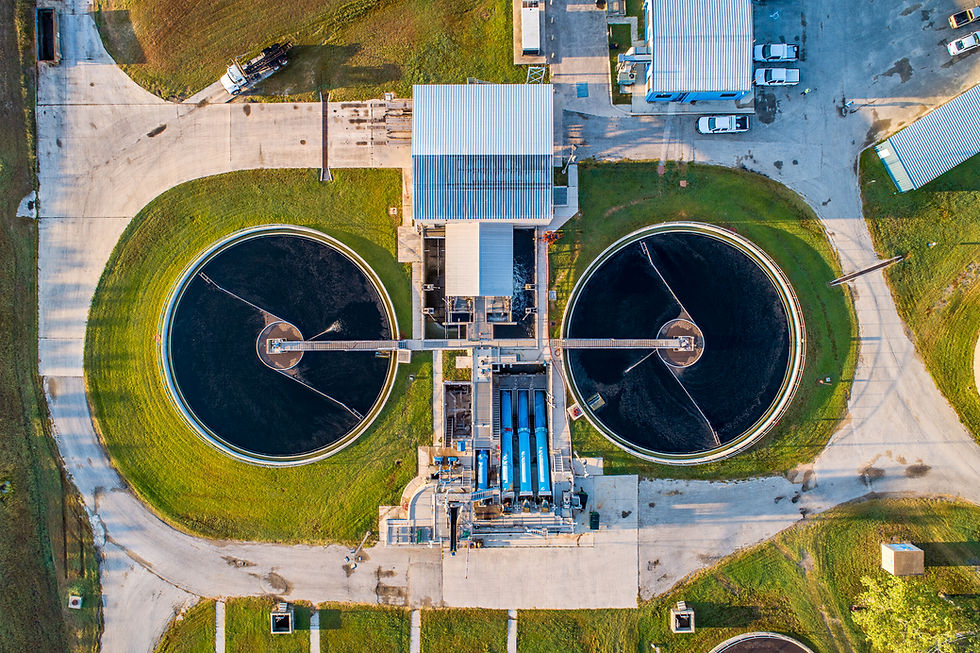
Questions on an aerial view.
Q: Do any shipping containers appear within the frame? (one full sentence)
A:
Yes, this view includes a shipping container.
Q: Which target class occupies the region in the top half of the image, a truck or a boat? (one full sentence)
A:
The one visible in the top half of the image is a truck.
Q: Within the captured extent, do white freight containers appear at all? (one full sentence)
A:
No, there appears to be no white freight container in this shot.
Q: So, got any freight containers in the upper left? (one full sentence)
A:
Yes, in the upper left there is a freight container.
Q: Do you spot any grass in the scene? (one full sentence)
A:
Yes, there's grass in this view.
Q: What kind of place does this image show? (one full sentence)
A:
What you see here is an industrial area.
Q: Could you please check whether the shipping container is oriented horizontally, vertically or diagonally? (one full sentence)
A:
Seen from above, the shipping container lies vertically.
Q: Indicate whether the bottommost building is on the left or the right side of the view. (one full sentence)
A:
The bottommost building sits on the right side.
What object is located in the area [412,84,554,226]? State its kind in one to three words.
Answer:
building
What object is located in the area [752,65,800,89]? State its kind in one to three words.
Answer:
truck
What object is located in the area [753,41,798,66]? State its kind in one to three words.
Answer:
truck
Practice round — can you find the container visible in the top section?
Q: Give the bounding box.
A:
[36,8,65,65]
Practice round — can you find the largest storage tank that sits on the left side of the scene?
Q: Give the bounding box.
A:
[160,225,402,466]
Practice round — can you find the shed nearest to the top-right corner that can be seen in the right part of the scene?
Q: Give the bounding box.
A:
[872,86,980,193]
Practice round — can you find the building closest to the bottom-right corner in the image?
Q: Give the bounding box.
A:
[881,545,924,575]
